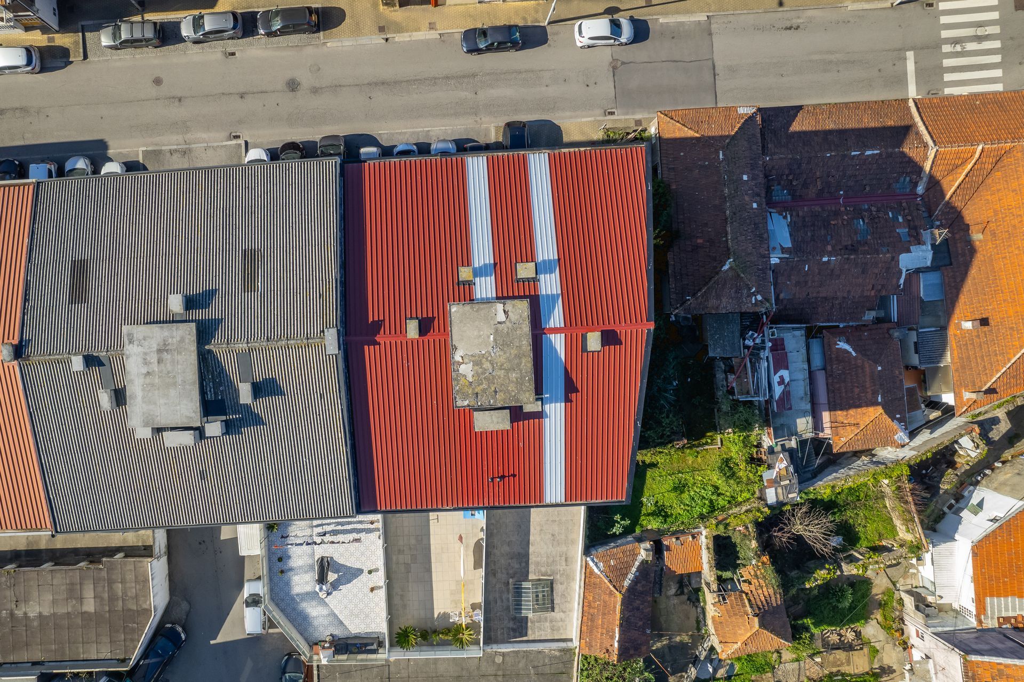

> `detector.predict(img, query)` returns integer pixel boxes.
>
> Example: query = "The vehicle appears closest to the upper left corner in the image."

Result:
[0,42,37,74]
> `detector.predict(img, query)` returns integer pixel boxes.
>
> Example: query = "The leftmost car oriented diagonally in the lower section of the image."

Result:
[120,626,178,682]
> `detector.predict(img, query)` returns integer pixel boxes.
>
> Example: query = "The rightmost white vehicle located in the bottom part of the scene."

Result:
[239,582,266,642]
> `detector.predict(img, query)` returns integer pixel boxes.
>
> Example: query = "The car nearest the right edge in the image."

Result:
[575,14,635,49]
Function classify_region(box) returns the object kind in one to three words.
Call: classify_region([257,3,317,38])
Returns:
car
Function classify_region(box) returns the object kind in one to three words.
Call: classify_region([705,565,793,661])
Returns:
house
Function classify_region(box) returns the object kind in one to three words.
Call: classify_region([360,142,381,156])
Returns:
vehicle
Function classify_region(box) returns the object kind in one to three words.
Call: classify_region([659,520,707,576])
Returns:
shed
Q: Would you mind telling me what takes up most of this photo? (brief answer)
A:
buildings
